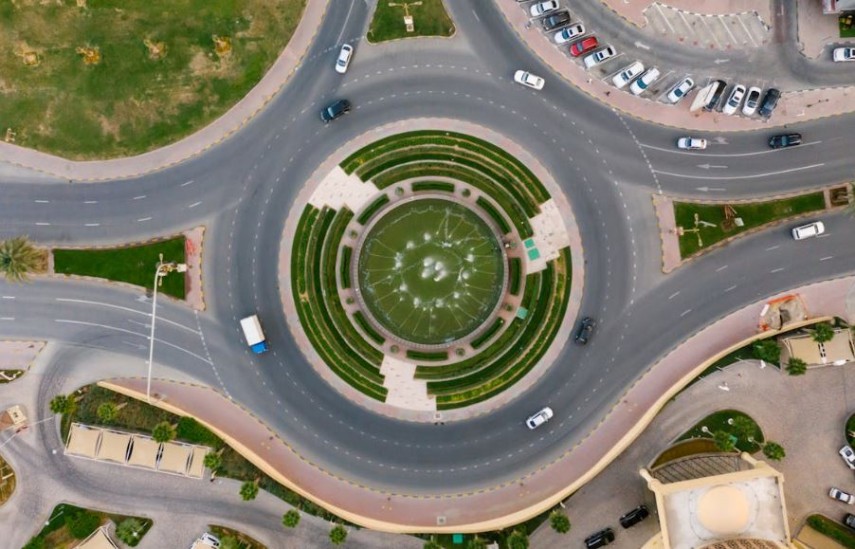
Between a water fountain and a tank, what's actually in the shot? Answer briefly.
water fountain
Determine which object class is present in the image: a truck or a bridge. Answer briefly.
truck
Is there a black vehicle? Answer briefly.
Yes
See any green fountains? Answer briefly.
Yes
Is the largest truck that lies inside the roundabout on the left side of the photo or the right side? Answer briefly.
left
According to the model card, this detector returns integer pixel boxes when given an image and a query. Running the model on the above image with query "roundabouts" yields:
[205,44,657,496]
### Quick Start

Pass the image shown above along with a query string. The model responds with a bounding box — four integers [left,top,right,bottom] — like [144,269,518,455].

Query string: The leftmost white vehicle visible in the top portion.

[335,43,354,76]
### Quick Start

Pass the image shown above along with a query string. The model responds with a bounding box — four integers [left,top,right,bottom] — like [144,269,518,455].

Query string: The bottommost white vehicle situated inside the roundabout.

[524,406,554,431]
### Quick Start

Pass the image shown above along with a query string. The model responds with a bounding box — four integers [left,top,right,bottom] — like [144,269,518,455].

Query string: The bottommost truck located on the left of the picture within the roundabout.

[238,314,270,355]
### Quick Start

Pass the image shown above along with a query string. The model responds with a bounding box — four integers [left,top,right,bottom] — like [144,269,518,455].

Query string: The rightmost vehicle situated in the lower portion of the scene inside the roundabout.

[574,315,596,346]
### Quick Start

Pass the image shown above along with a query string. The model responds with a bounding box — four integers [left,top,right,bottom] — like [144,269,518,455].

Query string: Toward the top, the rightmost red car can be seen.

[568,35,600,58]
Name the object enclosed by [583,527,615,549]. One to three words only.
car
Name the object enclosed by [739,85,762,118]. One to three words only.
car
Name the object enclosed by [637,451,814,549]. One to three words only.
building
